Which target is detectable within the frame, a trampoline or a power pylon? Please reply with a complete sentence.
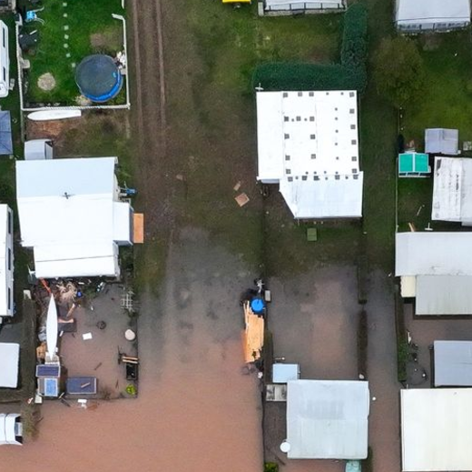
It is a trampoline that can be seen here.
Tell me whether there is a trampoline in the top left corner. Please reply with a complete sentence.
Yes, I can see a trampoline in the top left corner.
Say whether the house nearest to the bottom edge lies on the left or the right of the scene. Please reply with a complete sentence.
You can find the house nearest to the bottom edge on the right side of the picture.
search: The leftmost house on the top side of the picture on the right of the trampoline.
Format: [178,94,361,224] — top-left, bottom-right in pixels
[255,83,363,221]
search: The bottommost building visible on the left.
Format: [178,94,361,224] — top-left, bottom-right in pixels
[16,158,135,279]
